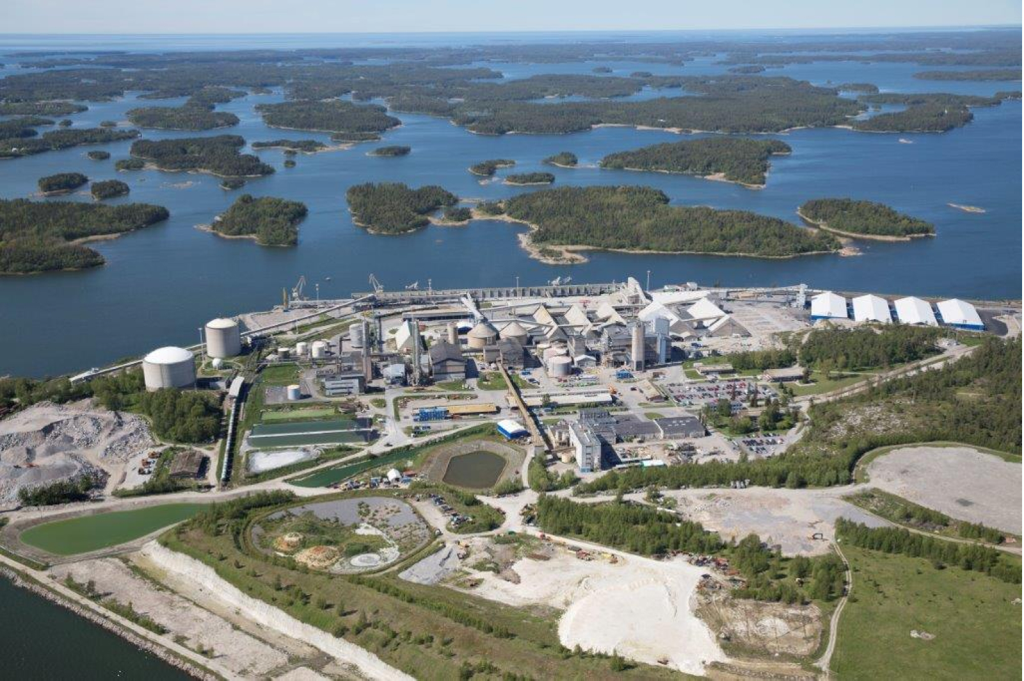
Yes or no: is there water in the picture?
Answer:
Yes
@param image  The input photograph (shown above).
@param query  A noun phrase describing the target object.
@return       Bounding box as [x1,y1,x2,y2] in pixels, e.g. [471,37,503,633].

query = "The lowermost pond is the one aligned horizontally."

[21,503,211,555]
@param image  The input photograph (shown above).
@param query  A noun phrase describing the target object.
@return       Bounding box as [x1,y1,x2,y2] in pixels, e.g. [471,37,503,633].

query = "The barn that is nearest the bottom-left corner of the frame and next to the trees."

[169,449,204,477]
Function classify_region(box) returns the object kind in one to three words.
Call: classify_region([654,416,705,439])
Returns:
building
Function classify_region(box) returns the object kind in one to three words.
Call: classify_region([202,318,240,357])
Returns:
storage tank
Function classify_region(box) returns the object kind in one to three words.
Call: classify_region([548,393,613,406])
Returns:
shed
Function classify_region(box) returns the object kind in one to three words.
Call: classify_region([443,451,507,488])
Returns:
pond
